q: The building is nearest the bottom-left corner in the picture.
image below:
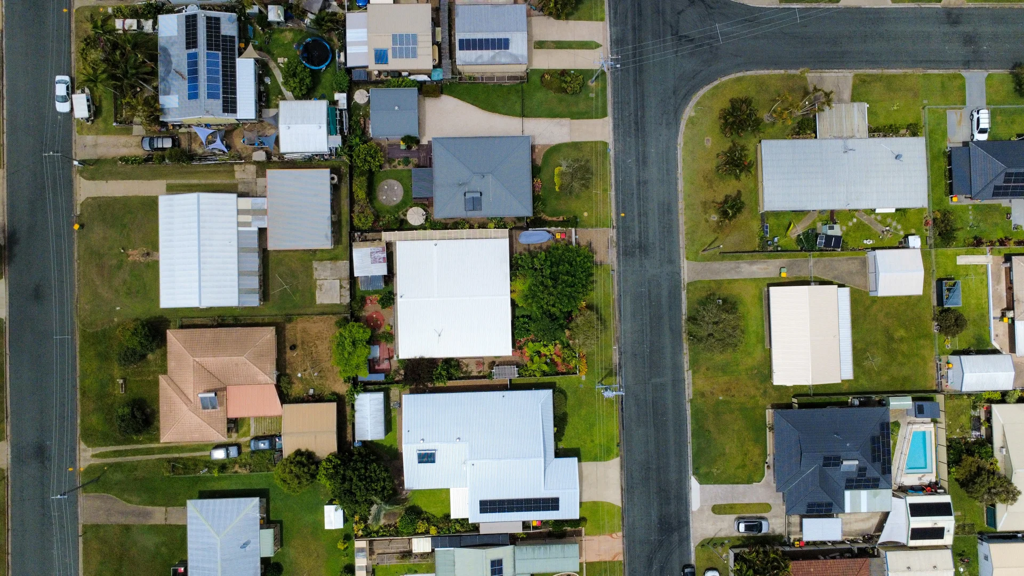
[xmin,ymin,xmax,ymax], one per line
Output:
[186,495,279,576]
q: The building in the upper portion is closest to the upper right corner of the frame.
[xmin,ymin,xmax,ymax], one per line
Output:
[941,140,1024,200]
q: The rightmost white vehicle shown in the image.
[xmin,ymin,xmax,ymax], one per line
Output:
[968,108,990,141]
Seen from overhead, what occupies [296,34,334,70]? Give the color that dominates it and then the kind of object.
black trampoline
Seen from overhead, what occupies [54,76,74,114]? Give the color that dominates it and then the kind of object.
white car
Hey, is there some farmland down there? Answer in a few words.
No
